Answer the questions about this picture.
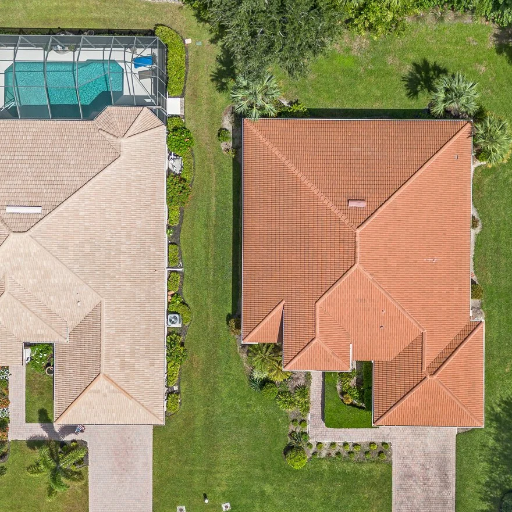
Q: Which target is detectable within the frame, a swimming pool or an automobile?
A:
swimming pool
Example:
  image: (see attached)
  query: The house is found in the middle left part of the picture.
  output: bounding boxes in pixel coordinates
[0,104,166,427]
